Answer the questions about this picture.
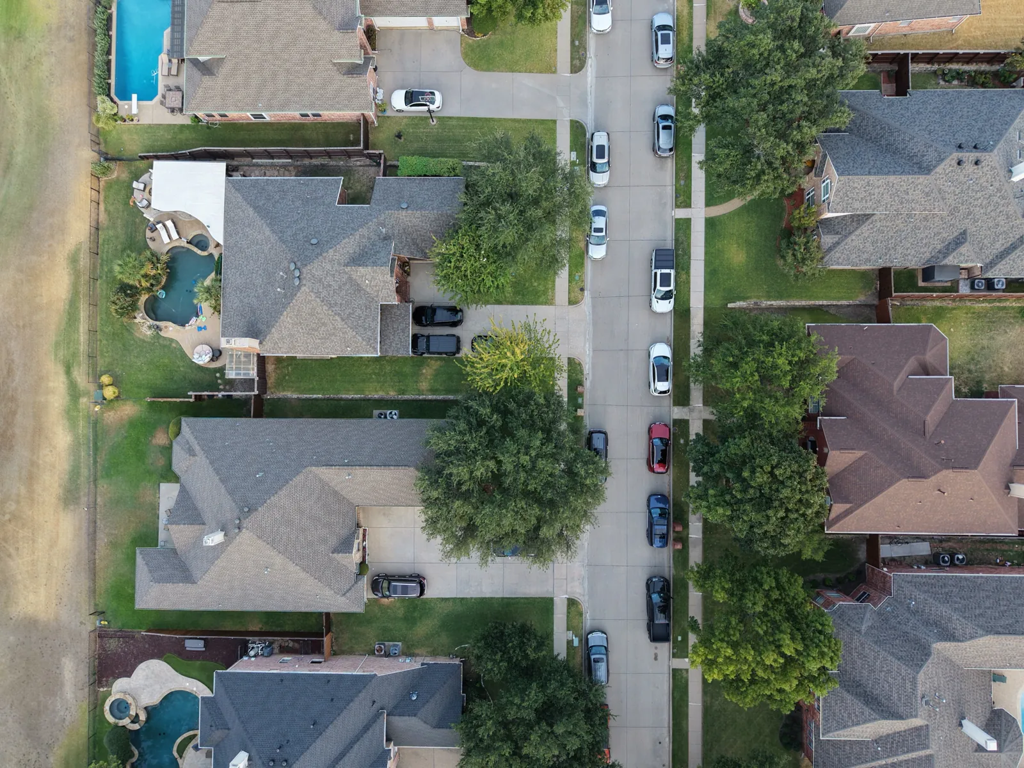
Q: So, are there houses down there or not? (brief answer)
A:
Yes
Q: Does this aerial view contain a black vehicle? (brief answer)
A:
Yes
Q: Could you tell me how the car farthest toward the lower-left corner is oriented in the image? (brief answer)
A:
horizontally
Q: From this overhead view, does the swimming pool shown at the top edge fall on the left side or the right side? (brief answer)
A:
left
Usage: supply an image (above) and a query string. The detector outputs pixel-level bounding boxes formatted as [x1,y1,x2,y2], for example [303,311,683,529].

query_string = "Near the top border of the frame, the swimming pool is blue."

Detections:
[111,0,176,104]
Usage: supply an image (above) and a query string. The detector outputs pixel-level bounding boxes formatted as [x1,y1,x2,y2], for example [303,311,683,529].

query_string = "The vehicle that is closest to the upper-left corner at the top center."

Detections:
[391,87,443,115]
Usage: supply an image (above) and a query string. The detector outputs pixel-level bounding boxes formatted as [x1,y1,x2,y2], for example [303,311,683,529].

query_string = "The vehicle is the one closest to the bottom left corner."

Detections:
[371,572,427,600]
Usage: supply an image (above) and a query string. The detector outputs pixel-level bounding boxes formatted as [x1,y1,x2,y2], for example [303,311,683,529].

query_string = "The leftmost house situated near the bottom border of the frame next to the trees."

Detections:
[198,654,466,768]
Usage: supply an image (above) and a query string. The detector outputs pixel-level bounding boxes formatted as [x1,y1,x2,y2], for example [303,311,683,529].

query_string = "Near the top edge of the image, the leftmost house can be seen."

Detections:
[184,0,470,125]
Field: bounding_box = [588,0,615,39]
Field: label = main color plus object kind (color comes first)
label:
white car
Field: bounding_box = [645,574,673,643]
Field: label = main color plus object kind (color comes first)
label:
black truck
